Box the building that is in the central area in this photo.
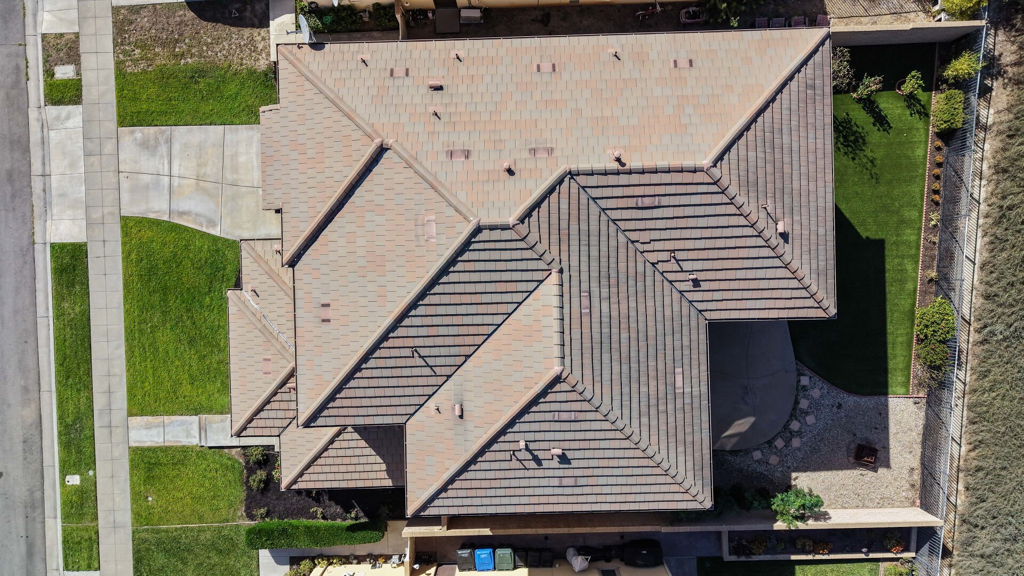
[227,28,838,518]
